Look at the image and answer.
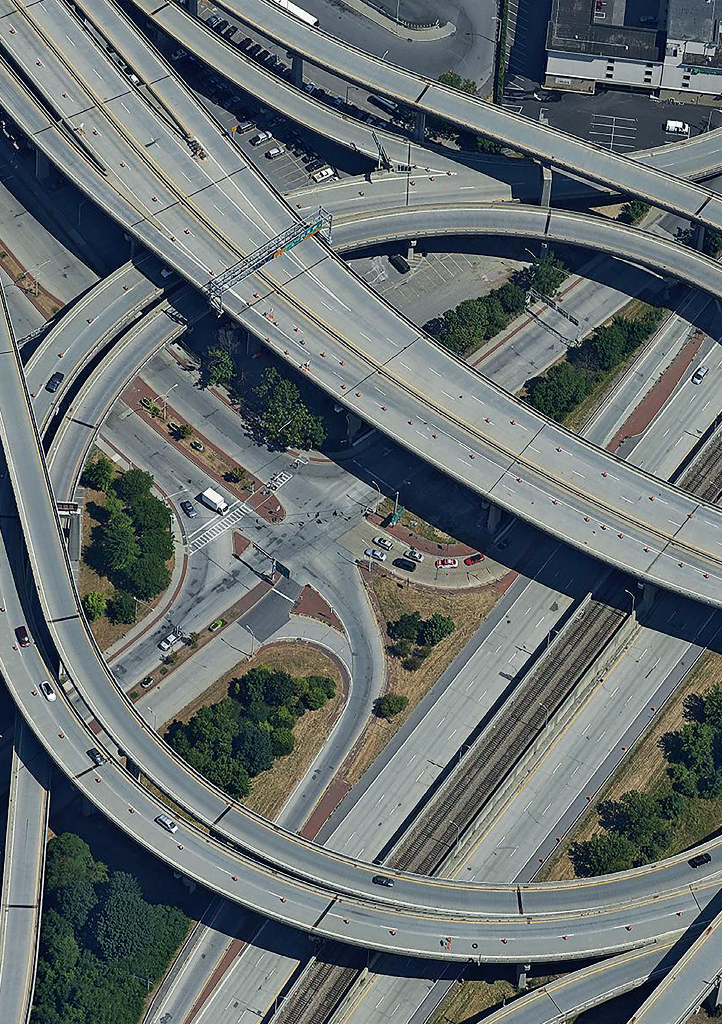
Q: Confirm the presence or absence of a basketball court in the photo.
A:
No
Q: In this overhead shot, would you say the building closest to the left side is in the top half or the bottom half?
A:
top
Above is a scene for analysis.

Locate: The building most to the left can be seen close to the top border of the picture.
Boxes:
[540,0,666,99]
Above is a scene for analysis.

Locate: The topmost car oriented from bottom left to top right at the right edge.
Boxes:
[693,367,708,384]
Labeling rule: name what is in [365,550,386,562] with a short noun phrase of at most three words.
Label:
vehicle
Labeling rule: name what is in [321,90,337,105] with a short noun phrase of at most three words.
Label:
car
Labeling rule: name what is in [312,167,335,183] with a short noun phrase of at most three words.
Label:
vehicle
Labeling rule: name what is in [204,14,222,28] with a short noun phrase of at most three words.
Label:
car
